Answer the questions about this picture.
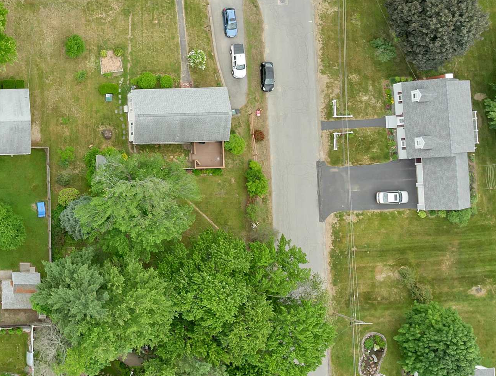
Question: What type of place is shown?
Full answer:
The area seen from above is a residential area.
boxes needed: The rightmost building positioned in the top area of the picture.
[384,73,480,210]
